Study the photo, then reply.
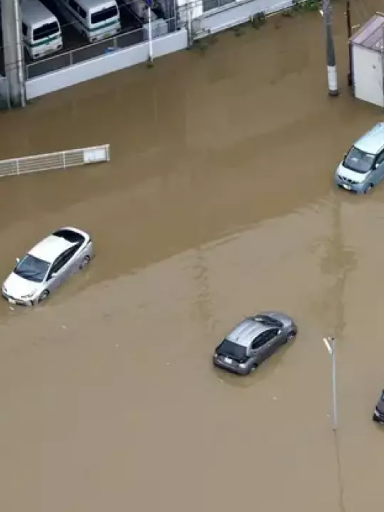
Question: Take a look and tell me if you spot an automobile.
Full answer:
Yes, the image includes an automobile.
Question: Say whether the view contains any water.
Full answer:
Yes, water can be seen from above here.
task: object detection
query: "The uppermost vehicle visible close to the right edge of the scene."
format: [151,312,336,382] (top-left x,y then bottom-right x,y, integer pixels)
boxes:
[335,123,384,194]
